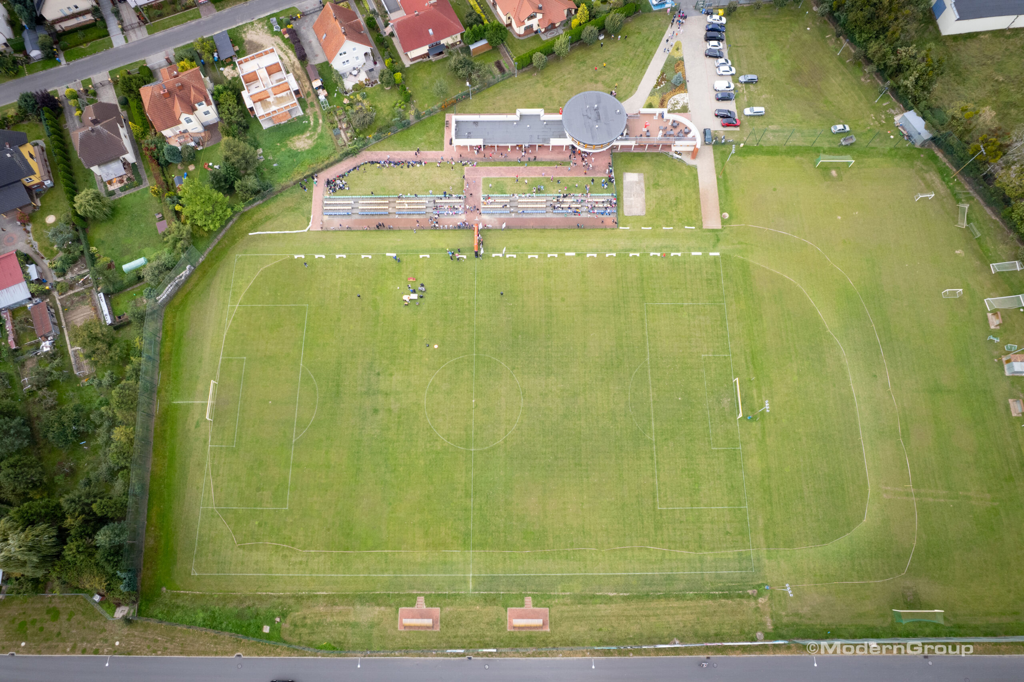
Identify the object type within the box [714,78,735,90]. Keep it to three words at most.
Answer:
vehicle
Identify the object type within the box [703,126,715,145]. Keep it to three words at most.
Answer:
vehicle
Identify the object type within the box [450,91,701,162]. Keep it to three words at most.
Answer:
building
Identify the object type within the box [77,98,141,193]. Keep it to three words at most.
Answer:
house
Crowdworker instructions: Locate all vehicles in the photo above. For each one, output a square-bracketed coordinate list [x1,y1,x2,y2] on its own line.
[715,106,736,117]
[714,78,735,90]
[713,56,734,66]
[704,28,726,40]
[714,90,736,101]
[830,122,853,134]
[744,105,767,116]
[707,13,728,23]
[706,38,725,49]
[650,0,669,6]
[717,64,737,75]
[705,47,724,57]
[721,116,742,127]
[738,72,760,83]
[706,21,726,31]
[703,126,715,145]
